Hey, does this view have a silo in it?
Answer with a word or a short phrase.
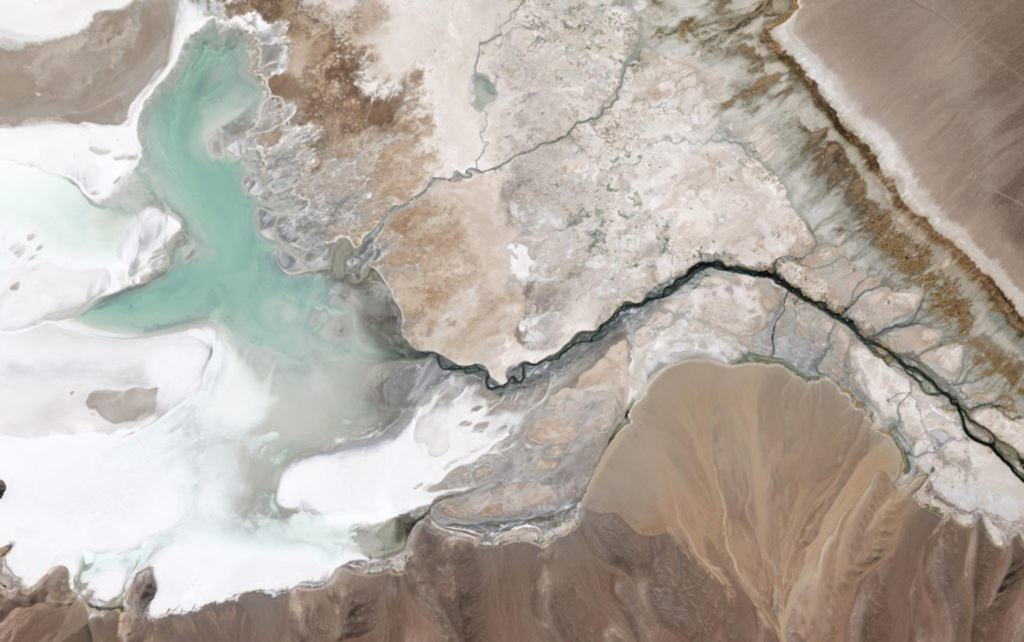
No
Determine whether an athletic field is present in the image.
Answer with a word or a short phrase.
No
